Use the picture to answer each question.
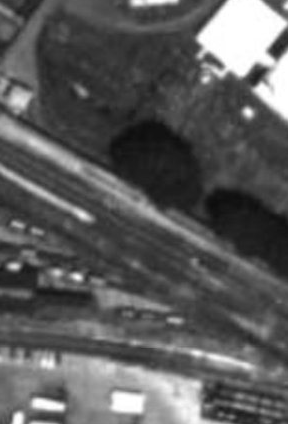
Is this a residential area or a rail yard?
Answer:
rail yard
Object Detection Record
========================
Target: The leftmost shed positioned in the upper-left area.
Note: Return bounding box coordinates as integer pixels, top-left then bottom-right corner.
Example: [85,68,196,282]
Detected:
[6,86,34,113]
